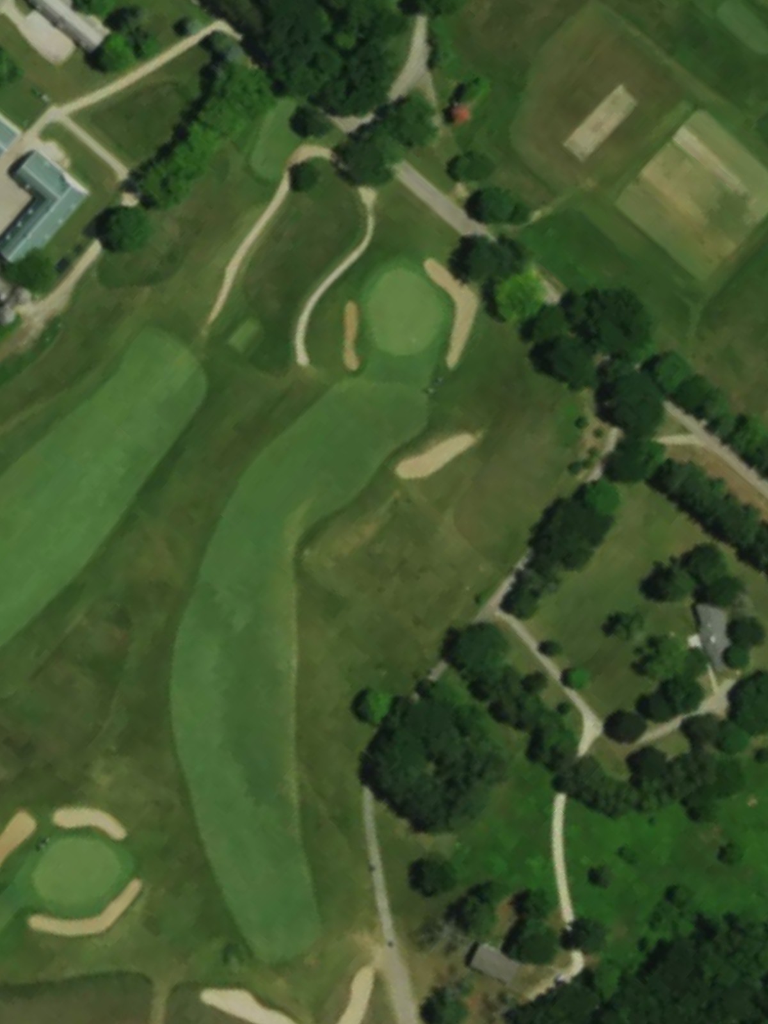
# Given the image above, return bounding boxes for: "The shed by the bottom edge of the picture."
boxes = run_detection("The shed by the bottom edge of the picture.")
[470,945,521,985]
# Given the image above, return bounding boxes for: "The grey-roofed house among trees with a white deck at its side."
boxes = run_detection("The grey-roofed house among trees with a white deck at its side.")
[687,605,732,672]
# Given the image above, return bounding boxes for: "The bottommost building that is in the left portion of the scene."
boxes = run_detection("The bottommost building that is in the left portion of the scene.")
[0,150,84,262]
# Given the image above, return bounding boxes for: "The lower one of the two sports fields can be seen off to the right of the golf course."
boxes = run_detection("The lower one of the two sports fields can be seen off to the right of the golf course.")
[614,107,768,282]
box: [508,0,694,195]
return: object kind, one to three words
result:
sports field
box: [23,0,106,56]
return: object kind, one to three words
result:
building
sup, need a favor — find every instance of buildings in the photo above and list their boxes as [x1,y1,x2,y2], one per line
[23,0,106,56]
[453,104,471,122]
[0,150,84,262]
[0,114,21,155]
[687,605,732,672]
[470,945,521,985]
